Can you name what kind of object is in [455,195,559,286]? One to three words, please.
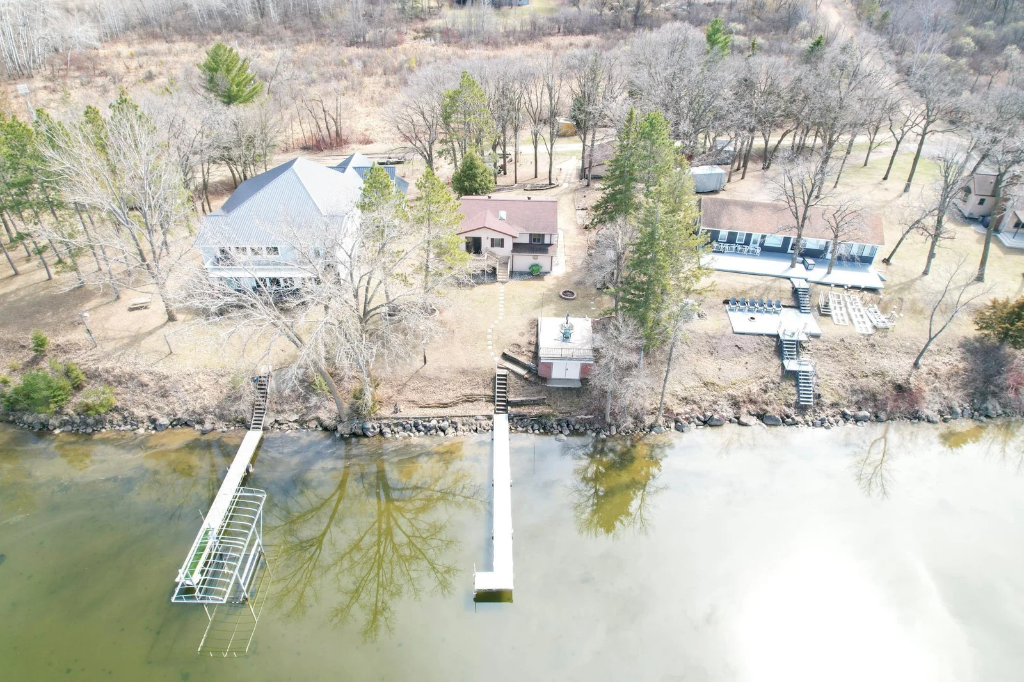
house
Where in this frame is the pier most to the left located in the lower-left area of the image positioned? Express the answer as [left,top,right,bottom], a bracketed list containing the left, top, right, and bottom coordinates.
[172,431,264,590]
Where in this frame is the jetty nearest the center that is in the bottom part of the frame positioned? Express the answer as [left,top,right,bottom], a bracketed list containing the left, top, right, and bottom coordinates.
[472,414,515,596]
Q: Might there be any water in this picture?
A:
Yes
